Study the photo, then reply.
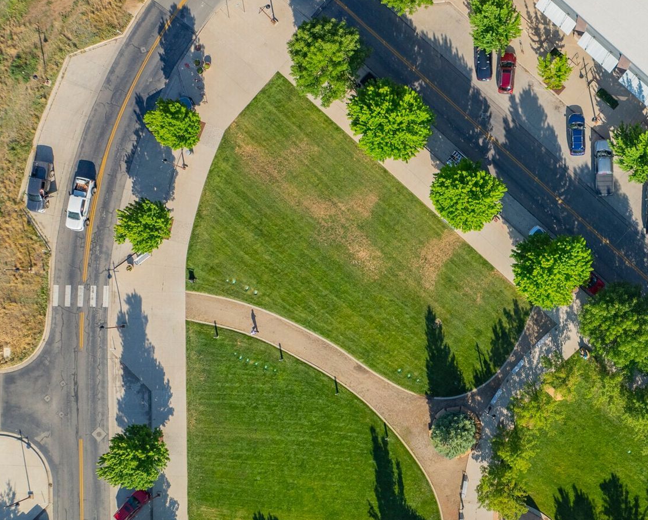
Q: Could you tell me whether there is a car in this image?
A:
Yes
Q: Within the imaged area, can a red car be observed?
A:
Yes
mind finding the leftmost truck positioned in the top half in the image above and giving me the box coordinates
[23,159,54,210]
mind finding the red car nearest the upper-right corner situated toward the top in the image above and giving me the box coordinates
[495,49,517,93]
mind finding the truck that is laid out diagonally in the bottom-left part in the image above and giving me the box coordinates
[104,490,150,520]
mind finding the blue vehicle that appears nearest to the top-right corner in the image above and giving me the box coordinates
[567,111,589,155]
